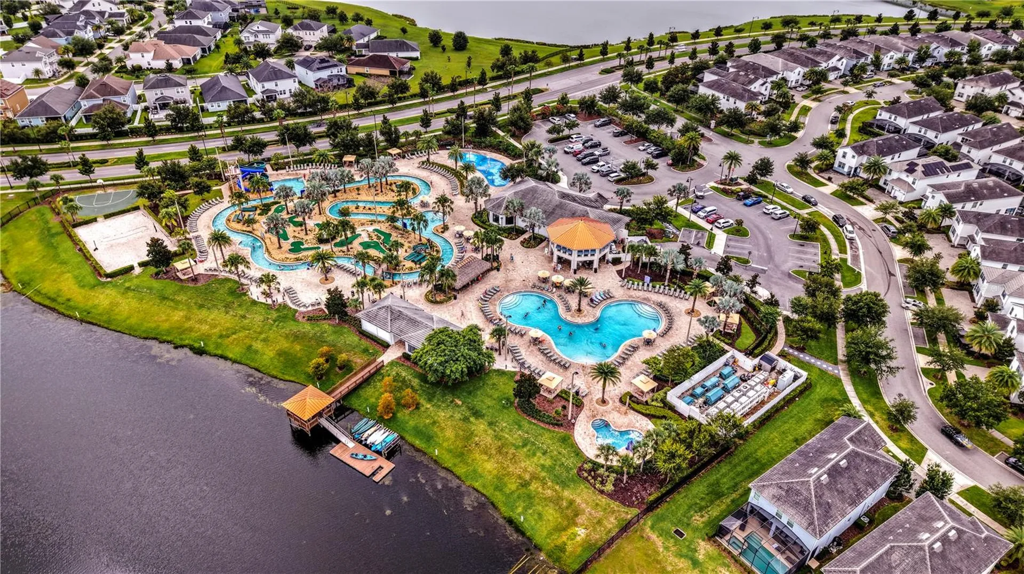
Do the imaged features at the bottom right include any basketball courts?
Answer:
No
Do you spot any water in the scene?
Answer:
Yes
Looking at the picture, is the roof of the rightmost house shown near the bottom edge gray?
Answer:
Yes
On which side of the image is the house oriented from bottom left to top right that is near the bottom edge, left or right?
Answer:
right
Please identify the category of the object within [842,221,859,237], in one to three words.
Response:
vehicle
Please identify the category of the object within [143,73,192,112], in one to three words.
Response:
house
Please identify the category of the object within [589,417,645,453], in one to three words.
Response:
swimming pool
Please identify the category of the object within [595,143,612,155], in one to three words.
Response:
vehicle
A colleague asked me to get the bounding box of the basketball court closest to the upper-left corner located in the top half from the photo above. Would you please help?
[67,190,137,215]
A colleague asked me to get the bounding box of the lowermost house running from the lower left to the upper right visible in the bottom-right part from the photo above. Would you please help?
[715,415,904,574]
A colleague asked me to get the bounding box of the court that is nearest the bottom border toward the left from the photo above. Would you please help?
[73,209,177,268]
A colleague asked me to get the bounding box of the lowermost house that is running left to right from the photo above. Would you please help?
[821,491,1011,574]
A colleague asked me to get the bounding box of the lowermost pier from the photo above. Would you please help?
[330,443,395,485]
